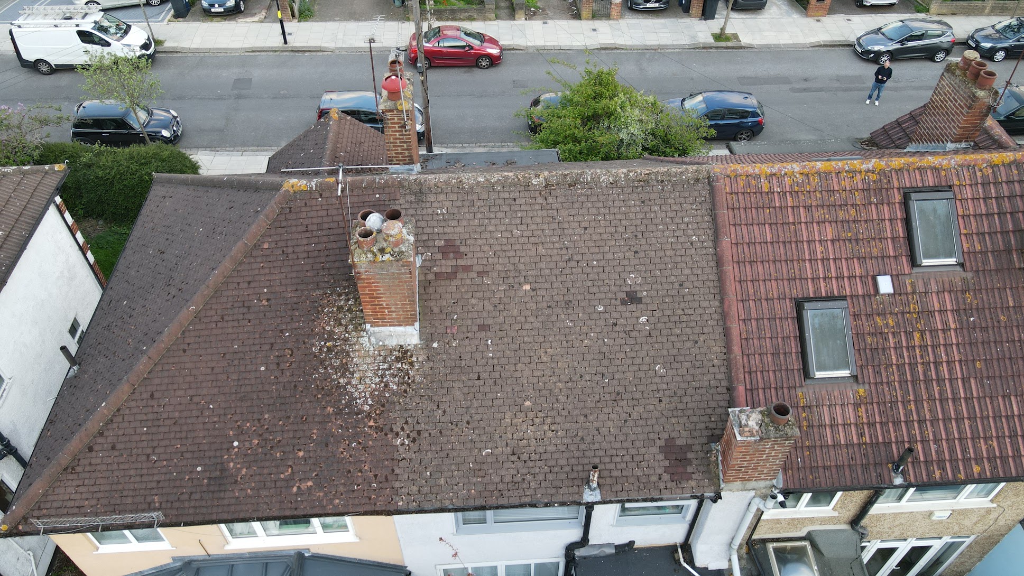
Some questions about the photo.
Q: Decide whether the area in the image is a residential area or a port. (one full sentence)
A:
It's a residential area.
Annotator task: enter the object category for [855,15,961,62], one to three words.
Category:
car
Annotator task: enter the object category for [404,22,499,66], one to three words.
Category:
car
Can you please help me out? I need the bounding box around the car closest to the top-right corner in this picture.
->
[970,14,1024,61]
